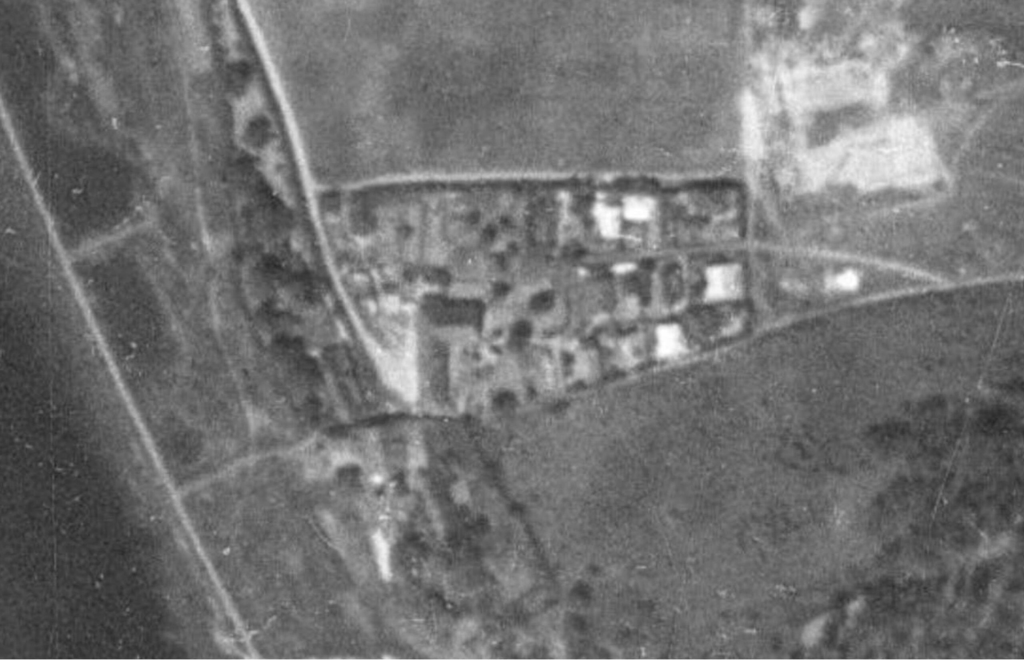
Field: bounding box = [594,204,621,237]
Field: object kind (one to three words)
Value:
house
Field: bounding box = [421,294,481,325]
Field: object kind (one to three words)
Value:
barn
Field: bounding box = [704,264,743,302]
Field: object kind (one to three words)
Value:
house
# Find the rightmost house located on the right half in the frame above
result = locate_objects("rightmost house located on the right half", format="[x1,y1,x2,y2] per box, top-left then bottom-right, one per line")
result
[828,271,859,289]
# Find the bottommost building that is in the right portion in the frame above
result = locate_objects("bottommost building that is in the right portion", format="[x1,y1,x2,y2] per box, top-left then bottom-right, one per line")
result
[657,324,690,357]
